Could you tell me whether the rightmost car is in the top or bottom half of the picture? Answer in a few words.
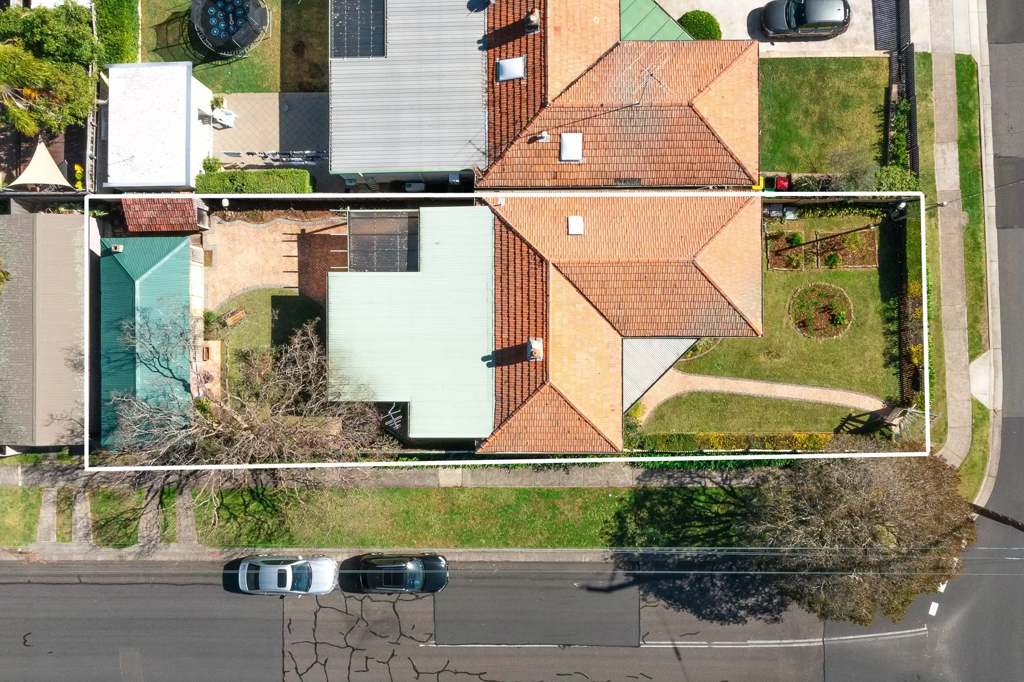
top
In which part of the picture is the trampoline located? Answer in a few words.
top left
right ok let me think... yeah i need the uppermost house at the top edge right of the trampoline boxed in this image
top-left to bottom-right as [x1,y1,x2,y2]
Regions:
[328,0,761,189]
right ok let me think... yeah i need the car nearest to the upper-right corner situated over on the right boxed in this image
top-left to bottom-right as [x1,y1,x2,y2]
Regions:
[760,0,854,41]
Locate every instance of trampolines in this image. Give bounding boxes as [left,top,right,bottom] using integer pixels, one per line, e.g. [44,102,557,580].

[178,0,281,71]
